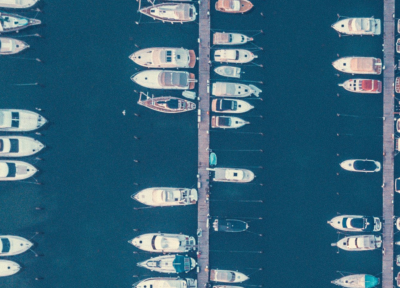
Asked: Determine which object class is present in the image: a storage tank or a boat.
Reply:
boat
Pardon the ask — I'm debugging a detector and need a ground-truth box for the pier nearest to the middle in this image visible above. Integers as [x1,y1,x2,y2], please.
[197,0,210,288]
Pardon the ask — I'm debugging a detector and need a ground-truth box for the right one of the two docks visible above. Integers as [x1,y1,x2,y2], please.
[382,0,395,288]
